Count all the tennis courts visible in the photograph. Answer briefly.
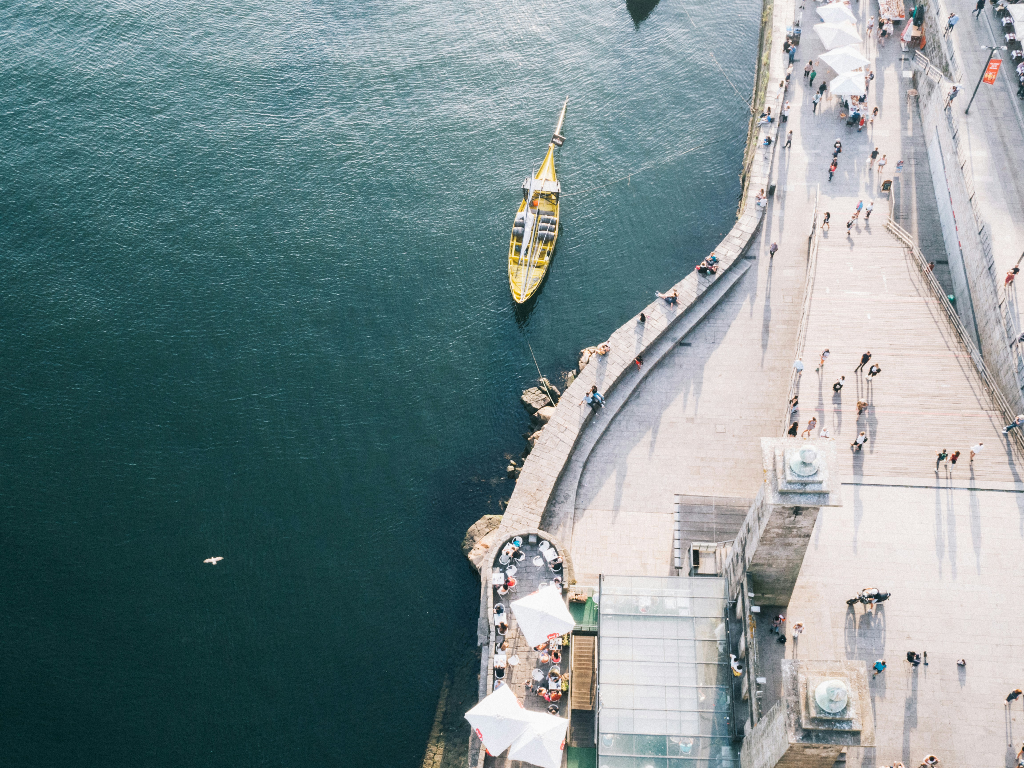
0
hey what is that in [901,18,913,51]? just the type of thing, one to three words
umbrella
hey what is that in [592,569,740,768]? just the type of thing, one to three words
building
